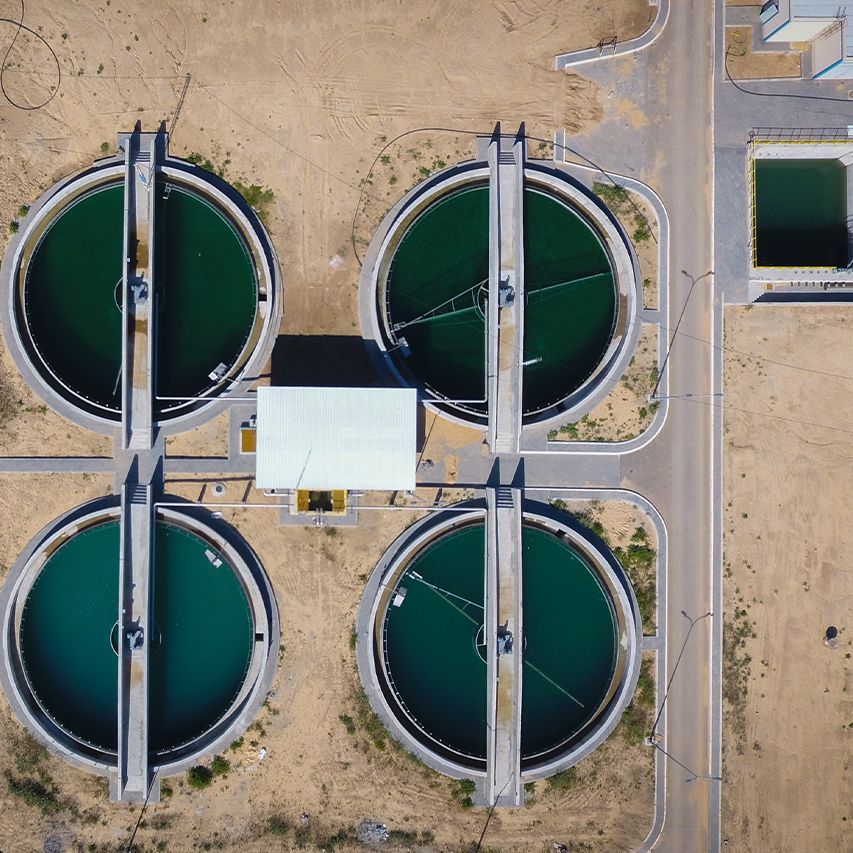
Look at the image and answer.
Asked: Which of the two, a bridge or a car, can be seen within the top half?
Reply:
bridge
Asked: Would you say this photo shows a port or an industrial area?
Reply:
industrial area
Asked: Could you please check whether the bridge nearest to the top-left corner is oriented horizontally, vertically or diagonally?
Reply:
vertically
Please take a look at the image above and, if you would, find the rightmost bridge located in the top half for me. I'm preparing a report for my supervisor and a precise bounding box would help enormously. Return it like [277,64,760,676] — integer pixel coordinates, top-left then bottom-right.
[485,142,522,453]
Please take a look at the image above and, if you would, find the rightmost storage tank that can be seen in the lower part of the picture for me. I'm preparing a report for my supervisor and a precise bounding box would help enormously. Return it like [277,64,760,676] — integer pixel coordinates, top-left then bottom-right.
[357,486,641,805]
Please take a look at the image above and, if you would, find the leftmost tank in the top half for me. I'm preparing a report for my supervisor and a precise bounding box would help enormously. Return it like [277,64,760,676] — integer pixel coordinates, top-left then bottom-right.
[0,139,283,449]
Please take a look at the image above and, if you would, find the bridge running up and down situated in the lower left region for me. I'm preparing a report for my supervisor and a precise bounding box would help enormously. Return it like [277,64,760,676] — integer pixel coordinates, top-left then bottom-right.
[117,483,152,801]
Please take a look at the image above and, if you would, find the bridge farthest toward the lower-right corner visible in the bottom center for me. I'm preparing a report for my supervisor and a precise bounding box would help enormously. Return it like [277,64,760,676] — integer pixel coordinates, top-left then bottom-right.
[483,486,521,805]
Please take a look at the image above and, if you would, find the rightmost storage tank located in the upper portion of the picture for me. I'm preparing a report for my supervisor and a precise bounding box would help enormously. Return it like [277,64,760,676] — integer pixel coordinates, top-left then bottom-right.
[358,142,643,453]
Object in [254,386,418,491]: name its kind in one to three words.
shed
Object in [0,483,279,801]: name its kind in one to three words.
storage tank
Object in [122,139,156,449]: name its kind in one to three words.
bridge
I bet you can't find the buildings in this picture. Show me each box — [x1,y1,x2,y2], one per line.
[761,0,853,78]
[254,386,418,491]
